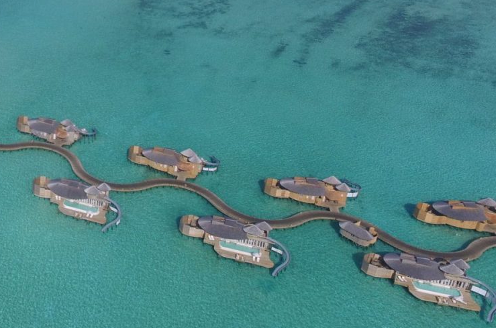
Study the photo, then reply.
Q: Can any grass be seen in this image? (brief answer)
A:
No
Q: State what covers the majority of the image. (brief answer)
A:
water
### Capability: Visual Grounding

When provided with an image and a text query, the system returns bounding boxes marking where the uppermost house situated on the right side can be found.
[263,175,363,213]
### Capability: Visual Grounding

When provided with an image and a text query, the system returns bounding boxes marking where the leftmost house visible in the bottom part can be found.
[33,177,125,229]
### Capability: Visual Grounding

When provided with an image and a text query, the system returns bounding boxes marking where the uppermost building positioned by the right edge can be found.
[411,200,496,236]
